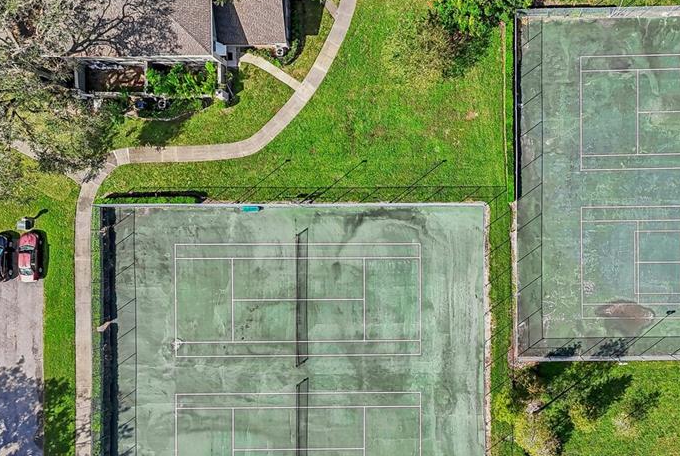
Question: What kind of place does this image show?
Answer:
sports ground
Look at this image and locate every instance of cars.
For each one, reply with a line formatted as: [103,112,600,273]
[16,232,43,284]
[0,233,15,283]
